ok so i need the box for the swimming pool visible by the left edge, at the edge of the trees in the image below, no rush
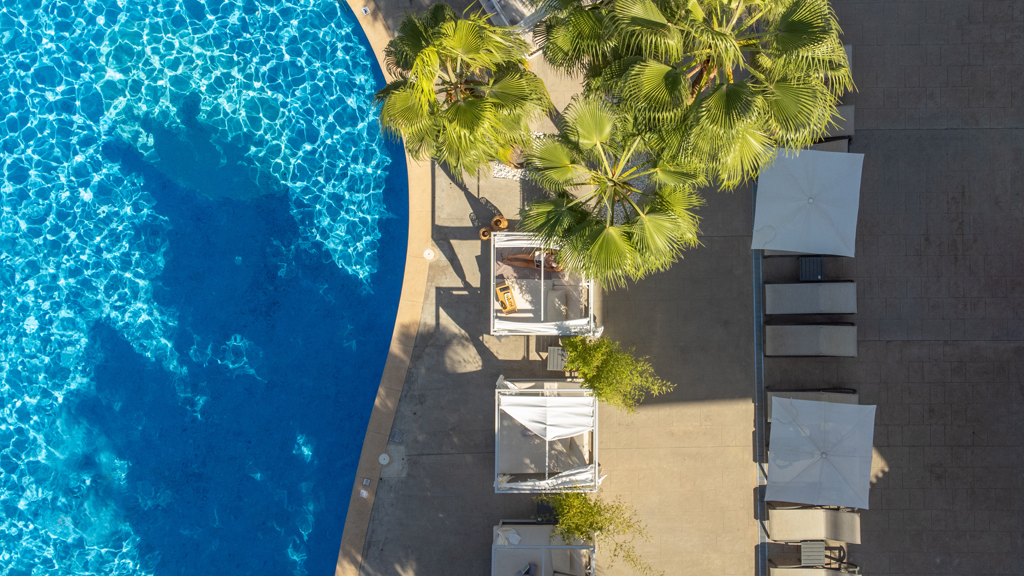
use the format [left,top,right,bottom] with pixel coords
[0,0,409,576]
